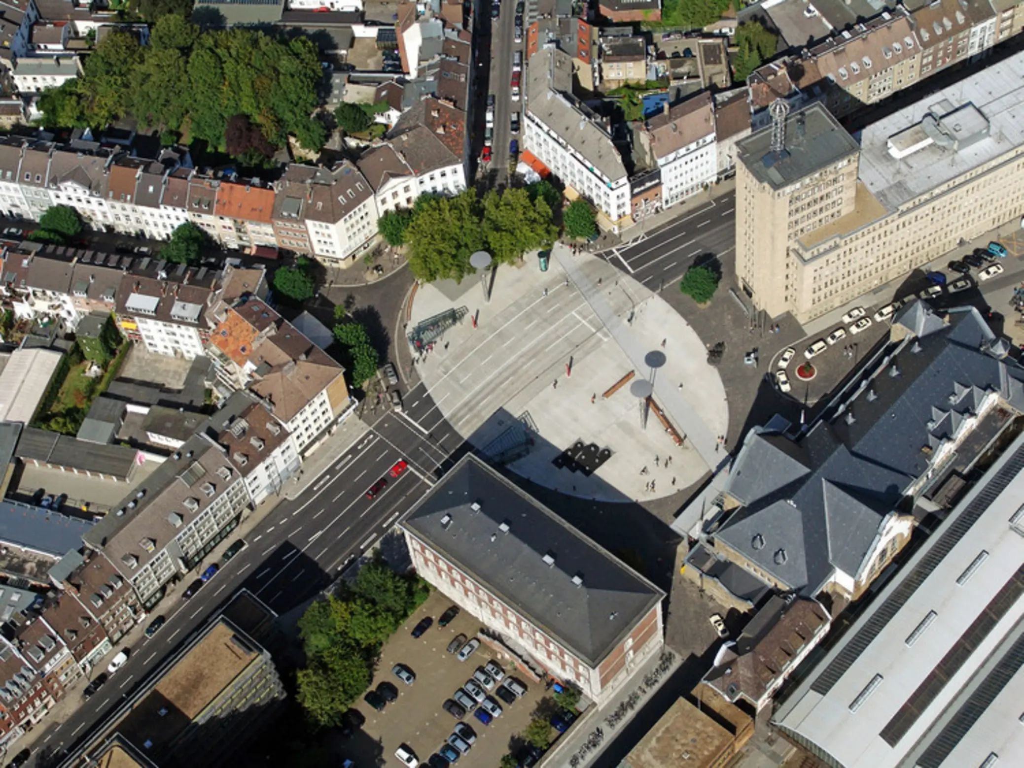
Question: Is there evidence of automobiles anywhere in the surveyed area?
Yes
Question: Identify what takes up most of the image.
buildings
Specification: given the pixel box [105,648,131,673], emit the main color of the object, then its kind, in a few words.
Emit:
white vehicle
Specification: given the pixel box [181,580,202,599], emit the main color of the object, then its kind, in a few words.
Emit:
black car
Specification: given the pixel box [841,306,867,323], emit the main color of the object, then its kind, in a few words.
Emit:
white car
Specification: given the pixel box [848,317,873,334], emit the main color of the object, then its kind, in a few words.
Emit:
white car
